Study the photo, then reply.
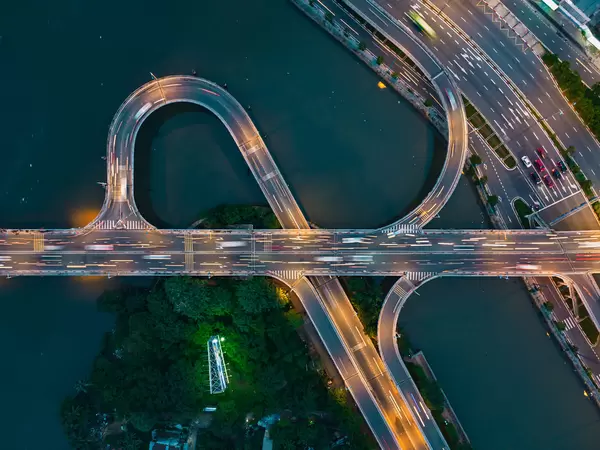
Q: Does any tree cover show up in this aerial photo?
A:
Yes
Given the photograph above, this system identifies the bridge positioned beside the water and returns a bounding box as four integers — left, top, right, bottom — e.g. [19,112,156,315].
[0,229,600,276]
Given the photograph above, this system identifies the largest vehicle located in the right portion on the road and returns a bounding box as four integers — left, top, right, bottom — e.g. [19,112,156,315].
[411,10,438,36]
